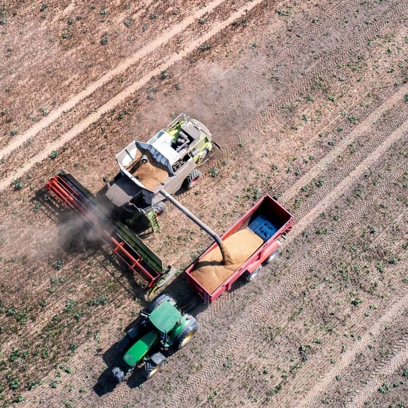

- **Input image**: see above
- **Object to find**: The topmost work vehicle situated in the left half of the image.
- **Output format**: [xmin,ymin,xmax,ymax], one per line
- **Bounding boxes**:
[45,113,222,299]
